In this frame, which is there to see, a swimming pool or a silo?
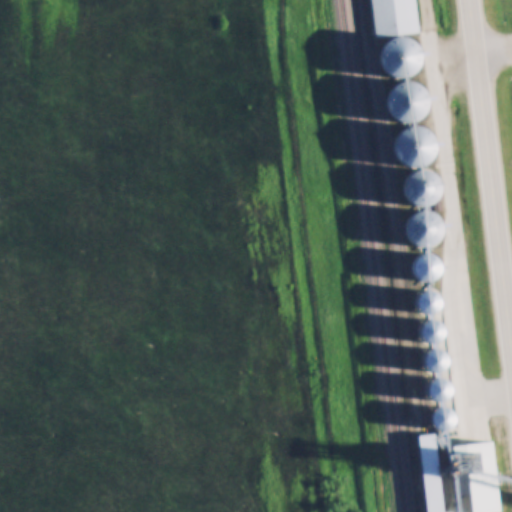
silo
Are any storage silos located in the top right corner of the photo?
Yes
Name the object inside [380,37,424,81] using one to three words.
silo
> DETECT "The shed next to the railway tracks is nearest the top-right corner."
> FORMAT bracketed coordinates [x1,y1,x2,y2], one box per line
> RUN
[372,0,418,37]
